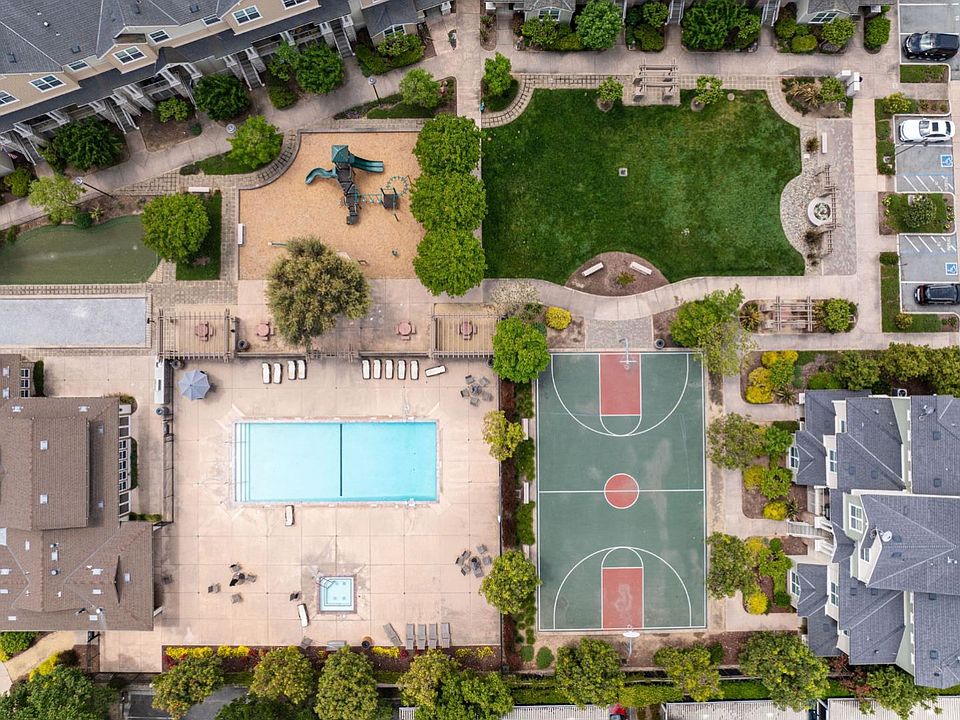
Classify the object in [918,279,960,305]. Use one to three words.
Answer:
car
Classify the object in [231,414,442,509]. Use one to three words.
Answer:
swimming pool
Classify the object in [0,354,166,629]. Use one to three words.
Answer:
building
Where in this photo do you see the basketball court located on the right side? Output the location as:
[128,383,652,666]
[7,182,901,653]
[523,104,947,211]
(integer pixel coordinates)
[533,348,711,633]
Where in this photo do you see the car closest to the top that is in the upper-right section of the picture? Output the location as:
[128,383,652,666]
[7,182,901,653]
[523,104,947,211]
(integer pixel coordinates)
[905,27,960,58]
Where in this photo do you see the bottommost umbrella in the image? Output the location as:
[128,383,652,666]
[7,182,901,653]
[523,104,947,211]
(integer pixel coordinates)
[177,368,210,400]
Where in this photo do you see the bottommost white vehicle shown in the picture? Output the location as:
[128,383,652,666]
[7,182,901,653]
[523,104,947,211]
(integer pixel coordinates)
[899,114,957,142]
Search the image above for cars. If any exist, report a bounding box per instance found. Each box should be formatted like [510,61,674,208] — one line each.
[918,279,960,305]
[610,704,632,720]
[899,114,957,142]
[905,27,960,58]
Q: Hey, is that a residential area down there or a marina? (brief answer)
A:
residential area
